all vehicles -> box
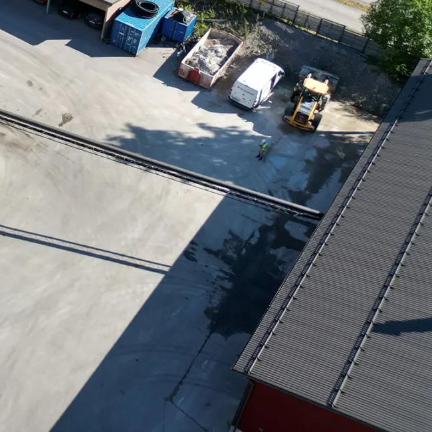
[83,7,106,30]
[61,0,92,20]
[285,63,344,127]
[234,58,285,107]
[30,0,55,7]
